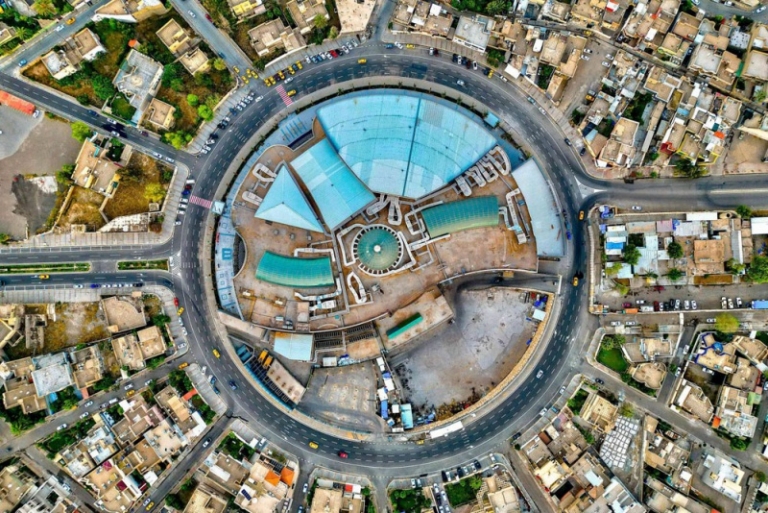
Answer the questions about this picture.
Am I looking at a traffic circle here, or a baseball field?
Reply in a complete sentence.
This aerial view contains a traffic circle.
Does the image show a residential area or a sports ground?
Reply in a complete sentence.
The area seen from above is a residential area.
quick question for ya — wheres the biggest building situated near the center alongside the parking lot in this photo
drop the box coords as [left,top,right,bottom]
[232,95,563,332]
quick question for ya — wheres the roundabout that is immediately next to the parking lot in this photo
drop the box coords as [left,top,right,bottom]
[166,41,604,479]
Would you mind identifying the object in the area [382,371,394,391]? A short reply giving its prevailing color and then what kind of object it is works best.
white vehicle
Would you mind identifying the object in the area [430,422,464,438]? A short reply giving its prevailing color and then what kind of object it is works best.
white vehicle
